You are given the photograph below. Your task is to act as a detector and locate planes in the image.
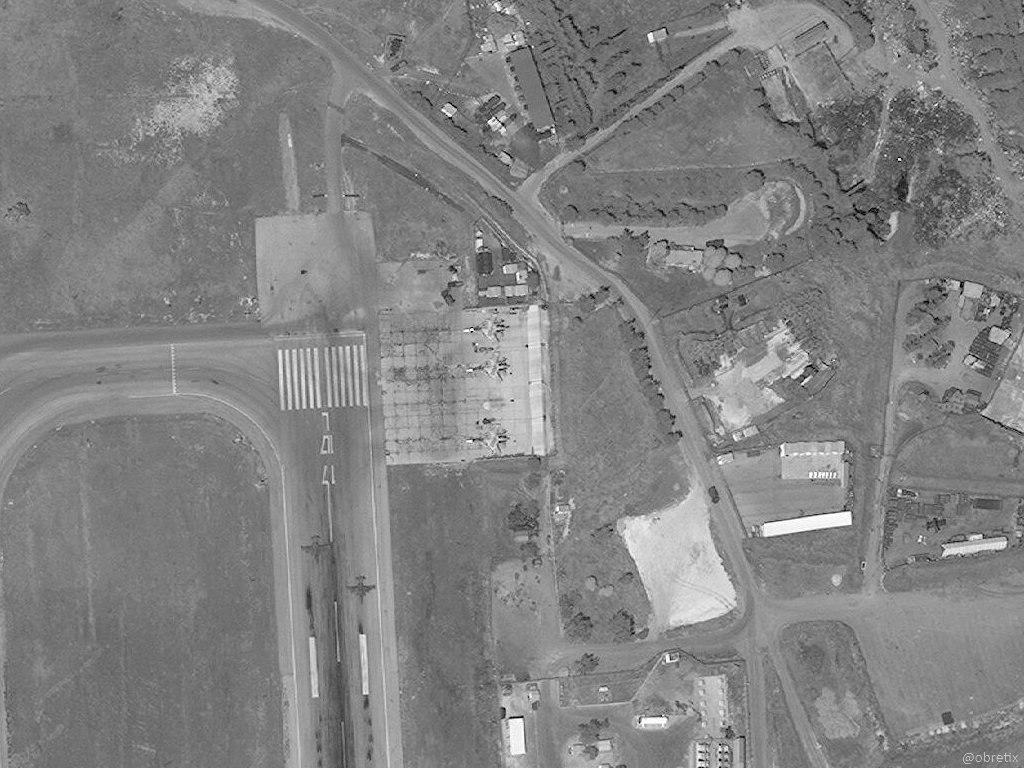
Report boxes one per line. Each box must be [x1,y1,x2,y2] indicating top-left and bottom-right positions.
[346,576,375,603]
[302,535,331,561]
[467,425,511,452]
[463,314,509,341]
[466,353,511,380]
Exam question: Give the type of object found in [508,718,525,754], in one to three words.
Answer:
building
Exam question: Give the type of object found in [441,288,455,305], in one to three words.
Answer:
vehicle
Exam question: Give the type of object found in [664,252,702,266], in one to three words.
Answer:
house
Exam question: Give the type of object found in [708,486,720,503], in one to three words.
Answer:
vehicle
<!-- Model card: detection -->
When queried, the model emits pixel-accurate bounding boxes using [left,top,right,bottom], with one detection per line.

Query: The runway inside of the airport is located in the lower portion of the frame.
[130,331,402,768]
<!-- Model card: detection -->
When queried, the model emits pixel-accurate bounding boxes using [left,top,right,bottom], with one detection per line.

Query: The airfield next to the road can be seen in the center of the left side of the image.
[0,113,553,768]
